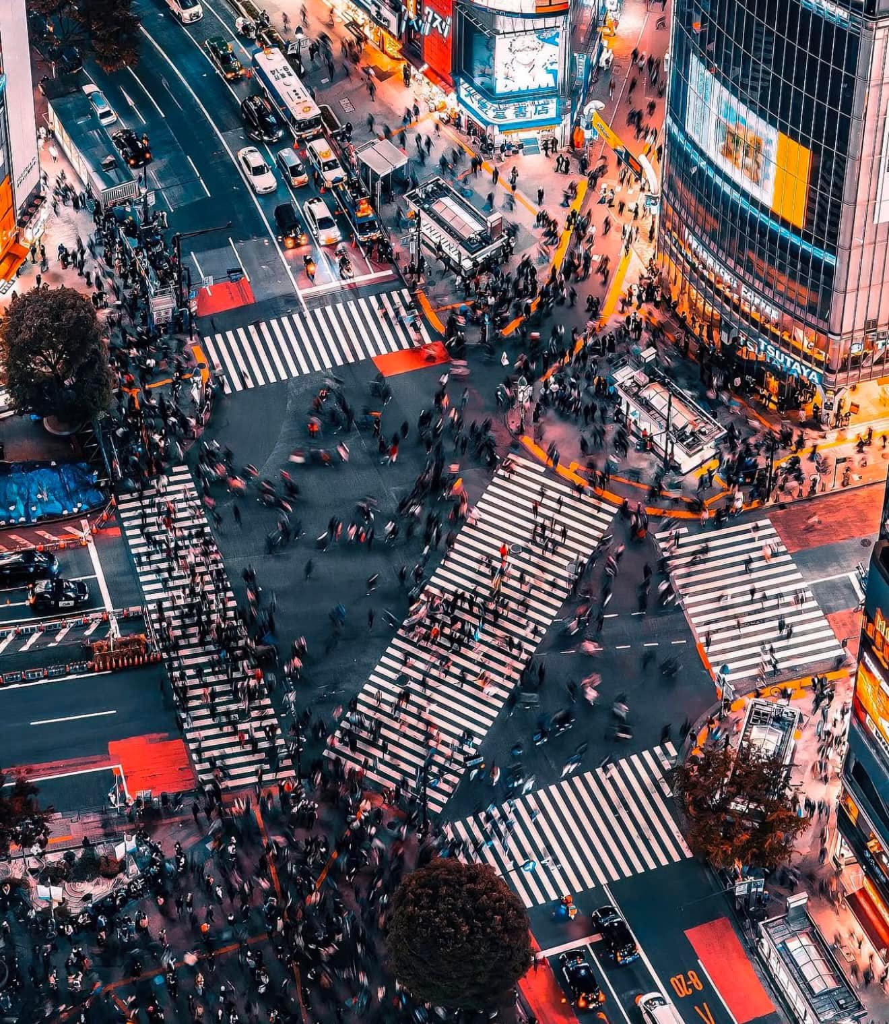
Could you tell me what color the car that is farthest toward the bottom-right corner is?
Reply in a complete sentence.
In this view, the car that is farthest toward the bottom-right corner is white.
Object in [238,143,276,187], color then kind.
white car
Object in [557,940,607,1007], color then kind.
black car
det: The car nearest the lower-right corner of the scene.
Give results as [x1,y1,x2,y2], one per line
[632,981,682,1024]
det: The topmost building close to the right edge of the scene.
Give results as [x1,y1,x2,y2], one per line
[658,0,889,414]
